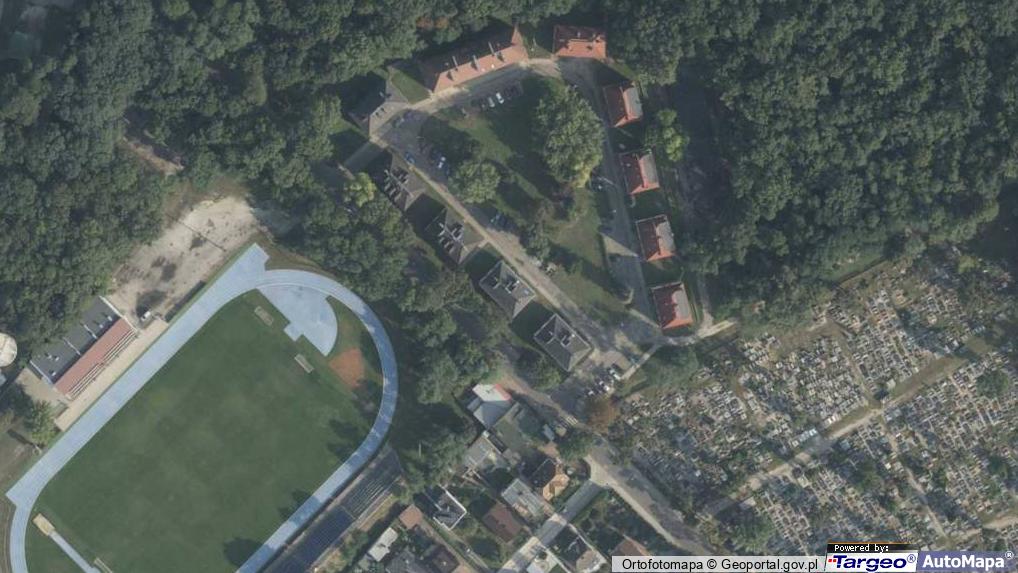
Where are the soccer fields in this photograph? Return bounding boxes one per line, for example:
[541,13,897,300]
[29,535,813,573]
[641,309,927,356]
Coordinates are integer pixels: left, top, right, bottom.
[27,286,383,573]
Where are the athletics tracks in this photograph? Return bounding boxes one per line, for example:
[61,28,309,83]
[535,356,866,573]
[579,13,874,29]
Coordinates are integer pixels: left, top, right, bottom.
[5,244,400,573]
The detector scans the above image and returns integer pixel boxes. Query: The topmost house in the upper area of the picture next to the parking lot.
[424,30,529,91]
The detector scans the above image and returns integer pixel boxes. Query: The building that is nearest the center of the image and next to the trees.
[479,260,536,318]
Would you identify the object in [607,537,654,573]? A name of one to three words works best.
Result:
house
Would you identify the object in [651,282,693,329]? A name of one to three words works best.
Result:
house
